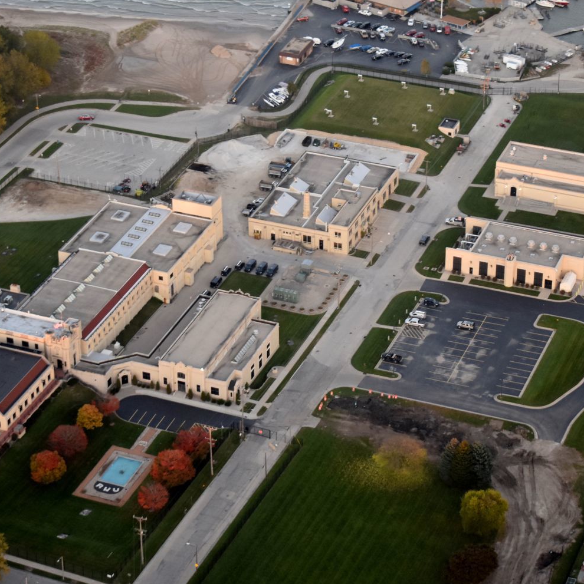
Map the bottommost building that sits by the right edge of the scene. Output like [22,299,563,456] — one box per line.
[445,217,584,291]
